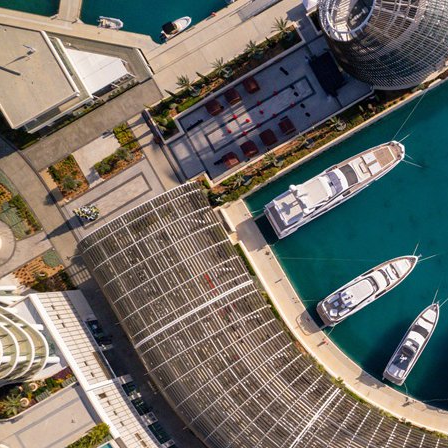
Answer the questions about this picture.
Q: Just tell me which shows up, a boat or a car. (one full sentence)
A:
Visible in the photo is a boat.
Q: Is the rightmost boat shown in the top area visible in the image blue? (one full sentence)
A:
No, the rightmost boat shown in the top area is white.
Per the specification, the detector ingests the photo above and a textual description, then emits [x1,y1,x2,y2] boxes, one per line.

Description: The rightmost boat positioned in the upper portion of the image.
[248,87,430,246]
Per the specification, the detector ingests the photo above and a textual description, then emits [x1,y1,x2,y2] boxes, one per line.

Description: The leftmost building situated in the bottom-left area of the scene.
[0,305,55,390]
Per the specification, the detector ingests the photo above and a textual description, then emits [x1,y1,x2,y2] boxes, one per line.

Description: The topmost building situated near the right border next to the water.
[316,0,448,89]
